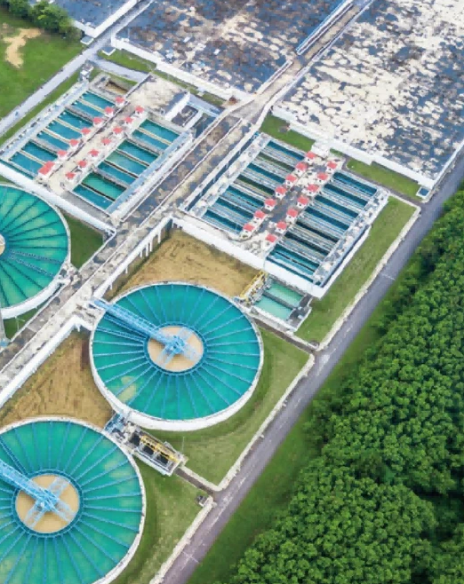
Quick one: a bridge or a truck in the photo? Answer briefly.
bridge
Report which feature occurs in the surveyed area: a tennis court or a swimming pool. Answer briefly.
swimming pool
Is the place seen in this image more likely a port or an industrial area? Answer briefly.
industrial area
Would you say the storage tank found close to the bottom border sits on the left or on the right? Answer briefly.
left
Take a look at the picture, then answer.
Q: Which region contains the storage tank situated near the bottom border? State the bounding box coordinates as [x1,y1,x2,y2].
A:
[0,415,147,584]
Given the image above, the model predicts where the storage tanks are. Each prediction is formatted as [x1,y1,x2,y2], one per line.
[88,277,265,431]
[0,180,72,319]
[0,415,147,584]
